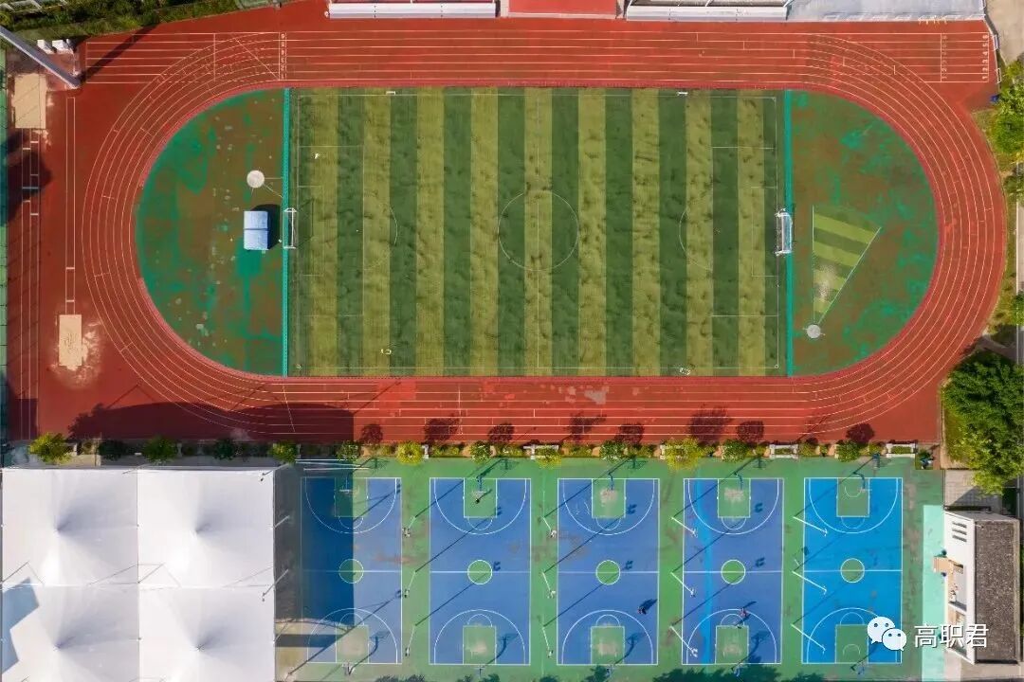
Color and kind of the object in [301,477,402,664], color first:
blue basketball court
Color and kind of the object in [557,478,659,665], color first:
blue basketball court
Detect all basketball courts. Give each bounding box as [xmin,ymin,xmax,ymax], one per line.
[683,478,784,665]
[301,477,402,664]
[429,478,531,665]
[557,478,659,665]
[803,477,903,664]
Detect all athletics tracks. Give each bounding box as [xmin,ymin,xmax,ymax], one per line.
[8,0,1006,442]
